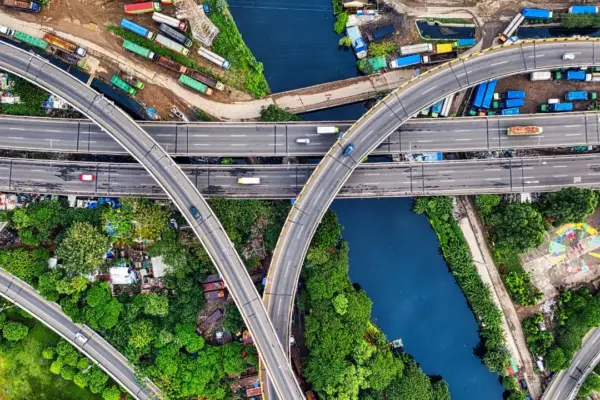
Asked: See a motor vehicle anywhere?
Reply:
Yes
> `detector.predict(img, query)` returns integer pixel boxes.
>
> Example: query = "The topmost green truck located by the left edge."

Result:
[0,23,51,50]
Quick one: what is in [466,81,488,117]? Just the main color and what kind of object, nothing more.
blue truck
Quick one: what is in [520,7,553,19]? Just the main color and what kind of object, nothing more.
blue vehicle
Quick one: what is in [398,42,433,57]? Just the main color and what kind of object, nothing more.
white vehicle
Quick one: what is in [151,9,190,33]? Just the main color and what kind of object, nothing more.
white truck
